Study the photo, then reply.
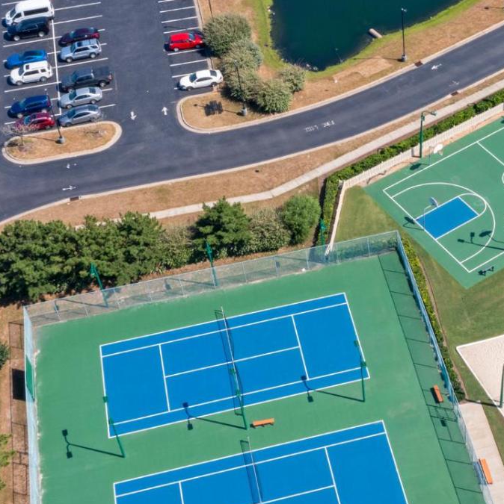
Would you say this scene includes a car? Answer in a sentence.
Yes, I can see a car in this picture.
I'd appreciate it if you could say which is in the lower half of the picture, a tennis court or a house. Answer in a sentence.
You can see a tennis court in the lower half of the picture.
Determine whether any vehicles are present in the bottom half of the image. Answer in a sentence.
No, no vehicle appears in the bottom half of the image.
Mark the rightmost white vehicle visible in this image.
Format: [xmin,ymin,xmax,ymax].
[178,70,222,91]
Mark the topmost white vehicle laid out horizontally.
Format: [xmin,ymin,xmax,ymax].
[5,0,56,25]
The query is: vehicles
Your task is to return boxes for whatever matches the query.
[56,25,99,45]
[57,37,102,62]
[6,47,48,67]
[10,95,52,118]
[57,104,102,127]
[8,59,54,86]
[14,109,56,132]
[59,66,111,92]
[7,17,49,40]
[5,0,56,25]
[58,87,103,108]
[178,70,222,91]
